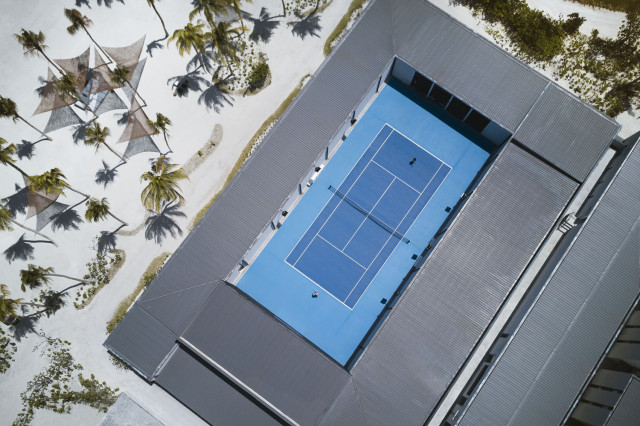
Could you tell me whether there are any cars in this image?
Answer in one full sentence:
No, the picture doesn't show any car.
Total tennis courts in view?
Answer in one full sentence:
The picture shows just 1 tennis court.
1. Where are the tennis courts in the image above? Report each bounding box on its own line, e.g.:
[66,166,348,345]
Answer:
[232,72,502,369]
